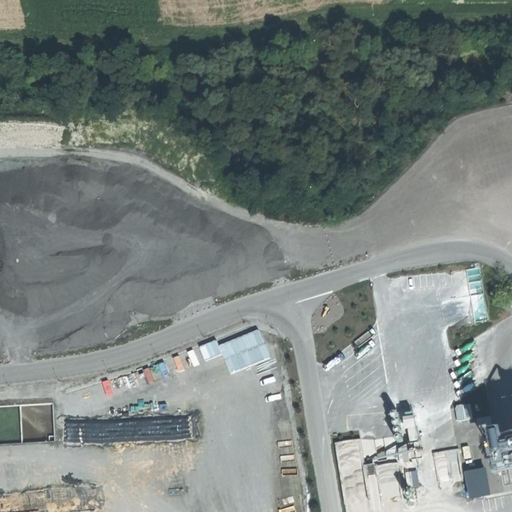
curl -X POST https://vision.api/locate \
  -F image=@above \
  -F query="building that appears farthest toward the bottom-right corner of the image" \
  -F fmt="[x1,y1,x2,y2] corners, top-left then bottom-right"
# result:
[464,468,490,500]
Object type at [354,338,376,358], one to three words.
vehicle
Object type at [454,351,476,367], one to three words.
vehicle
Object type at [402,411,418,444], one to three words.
building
